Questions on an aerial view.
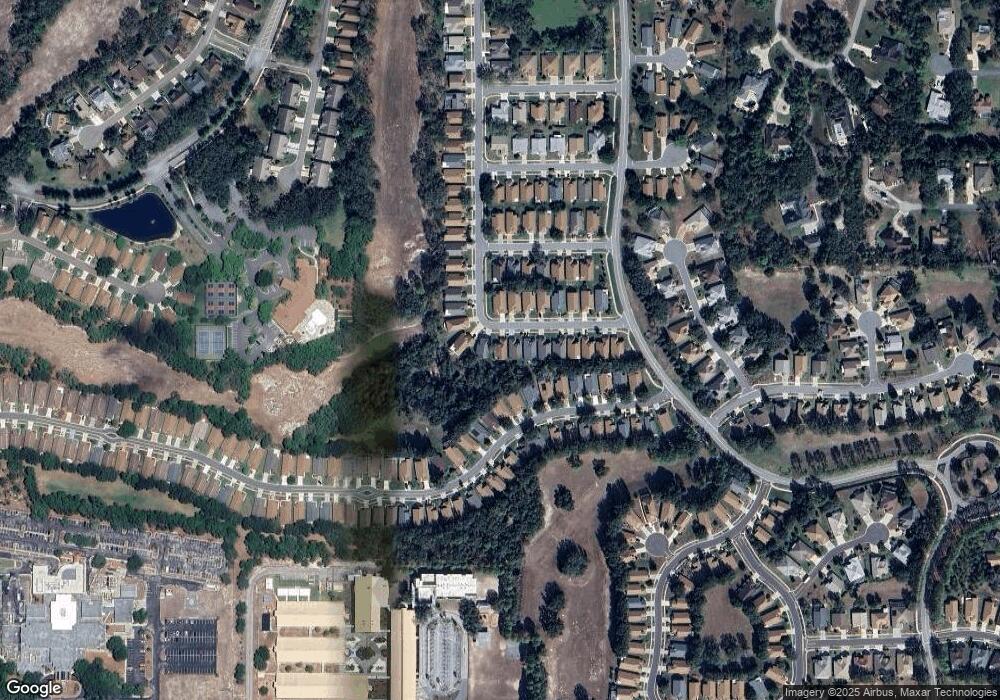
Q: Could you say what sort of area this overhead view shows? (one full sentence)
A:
The picture captures a residential area.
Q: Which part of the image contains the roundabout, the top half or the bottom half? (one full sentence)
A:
Seen from above, the roundabout lies in the bottom half of the view.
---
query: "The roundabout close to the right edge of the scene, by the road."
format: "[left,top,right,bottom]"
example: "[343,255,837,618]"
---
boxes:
[938,437,1000,511]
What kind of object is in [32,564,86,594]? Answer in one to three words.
building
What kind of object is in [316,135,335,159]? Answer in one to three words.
house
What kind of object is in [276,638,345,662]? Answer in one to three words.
building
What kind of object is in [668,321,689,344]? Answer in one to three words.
house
